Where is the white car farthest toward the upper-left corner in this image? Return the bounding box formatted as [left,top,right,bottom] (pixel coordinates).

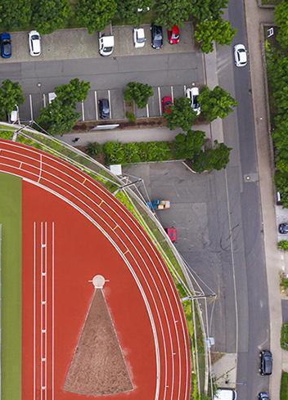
[28,30,42,56]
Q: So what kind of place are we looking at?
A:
sports ground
